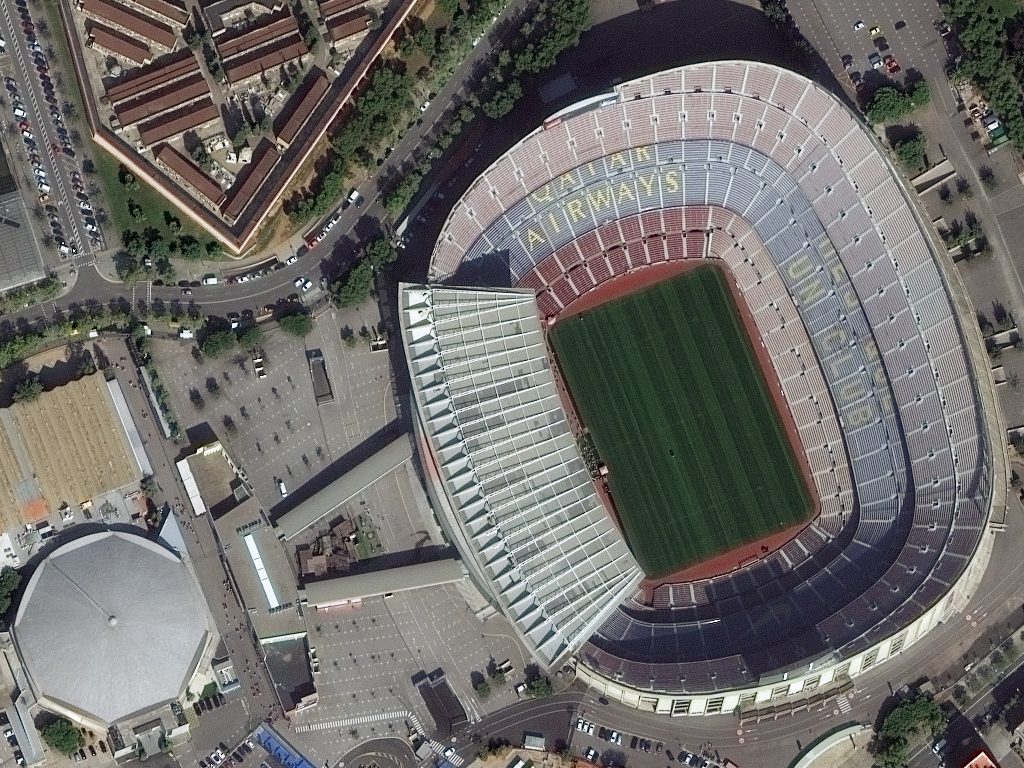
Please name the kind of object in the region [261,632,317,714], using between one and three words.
building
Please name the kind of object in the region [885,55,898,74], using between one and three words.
vehicle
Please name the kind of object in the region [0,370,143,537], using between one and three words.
building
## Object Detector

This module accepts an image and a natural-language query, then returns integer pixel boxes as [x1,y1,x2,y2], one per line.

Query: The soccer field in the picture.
[540,257,821,593]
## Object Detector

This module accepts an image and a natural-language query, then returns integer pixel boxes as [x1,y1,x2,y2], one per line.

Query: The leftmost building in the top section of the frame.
[0,191,46,296]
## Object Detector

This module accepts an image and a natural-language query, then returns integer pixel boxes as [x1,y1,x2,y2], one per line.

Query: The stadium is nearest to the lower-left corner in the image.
[8,531,213,732]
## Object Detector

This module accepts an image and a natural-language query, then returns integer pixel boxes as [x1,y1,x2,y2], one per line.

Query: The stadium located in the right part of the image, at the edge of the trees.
[399,59,1004,715]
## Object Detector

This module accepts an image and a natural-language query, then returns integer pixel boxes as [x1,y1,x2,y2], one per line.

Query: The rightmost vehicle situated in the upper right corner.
[983,113,999,132]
